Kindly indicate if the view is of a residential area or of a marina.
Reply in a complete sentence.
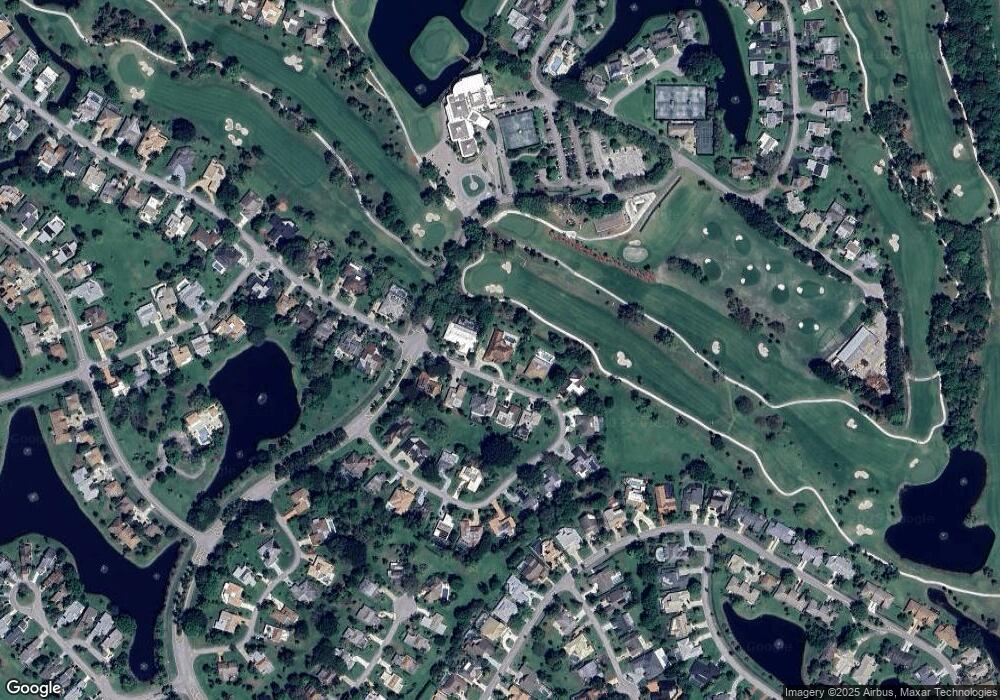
The area seen from above is a residential area.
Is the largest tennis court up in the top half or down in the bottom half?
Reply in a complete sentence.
The largest tennis court is in the top half of the image.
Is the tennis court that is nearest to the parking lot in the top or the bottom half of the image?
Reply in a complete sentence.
You can find the tennis court that is nearest to the parking lot in the top half.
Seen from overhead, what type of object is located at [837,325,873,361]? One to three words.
shed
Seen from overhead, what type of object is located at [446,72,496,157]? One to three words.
building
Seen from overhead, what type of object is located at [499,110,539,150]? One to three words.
tennis court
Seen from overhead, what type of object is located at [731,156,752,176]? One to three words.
house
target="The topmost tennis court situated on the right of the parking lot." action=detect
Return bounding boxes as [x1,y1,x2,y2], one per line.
[654,84,706,120]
